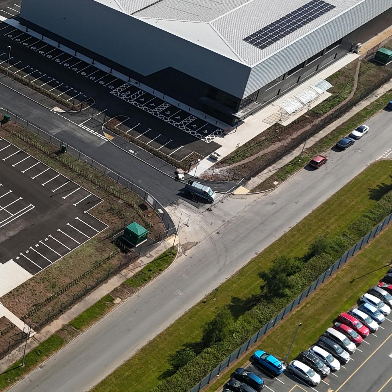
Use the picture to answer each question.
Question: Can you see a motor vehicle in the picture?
Yes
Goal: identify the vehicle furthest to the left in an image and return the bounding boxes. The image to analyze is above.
[186,180,215,203]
